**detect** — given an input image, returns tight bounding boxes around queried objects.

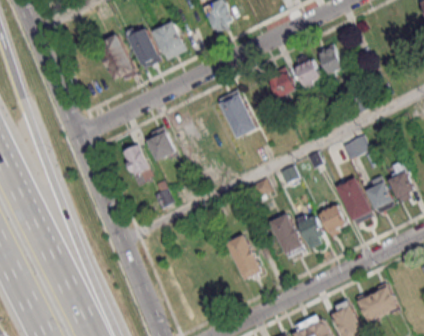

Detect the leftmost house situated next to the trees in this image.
[104,36,136,84]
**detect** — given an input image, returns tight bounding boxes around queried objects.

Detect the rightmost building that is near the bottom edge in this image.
[356,282,400,320]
